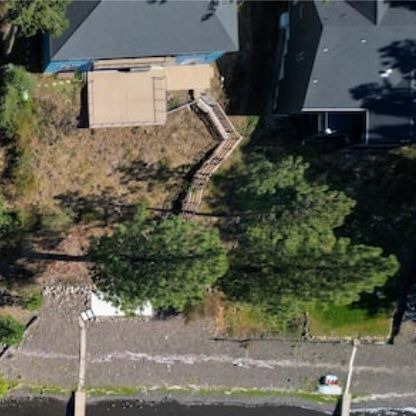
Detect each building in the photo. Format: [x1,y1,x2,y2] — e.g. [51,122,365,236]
[44,0,239,133]
[275,0,416,150]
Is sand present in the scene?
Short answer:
Yes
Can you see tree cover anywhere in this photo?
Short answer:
Yes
